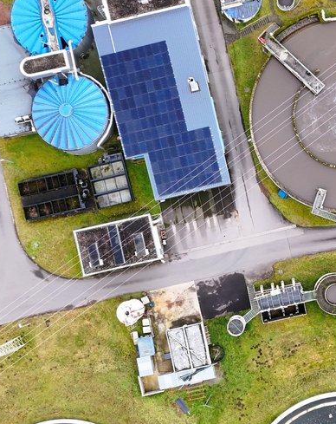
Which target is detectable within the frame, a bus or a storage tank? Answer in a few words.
storage tank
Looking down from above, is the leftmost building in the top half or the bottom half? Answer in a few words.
top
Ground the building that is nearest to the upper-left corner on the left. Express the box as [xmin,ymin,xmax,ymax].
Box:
[17,41,80,81]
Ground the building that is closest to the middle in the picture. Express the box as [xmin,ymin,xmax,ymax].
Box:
[74,215,165,276]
